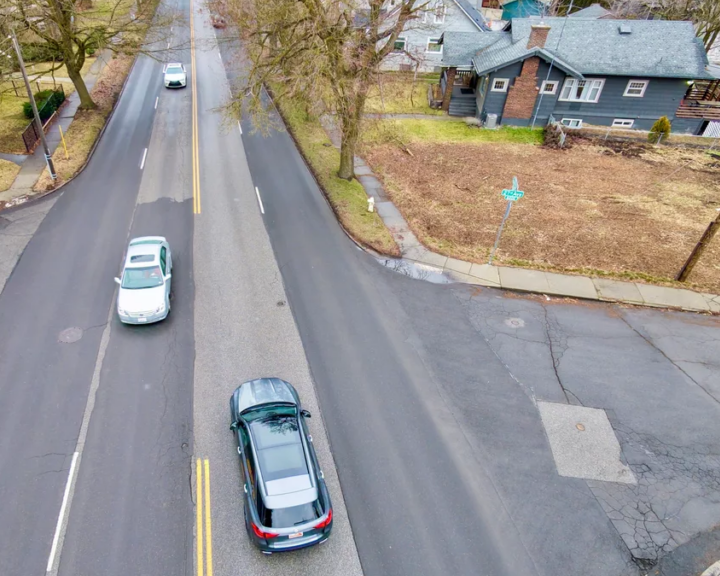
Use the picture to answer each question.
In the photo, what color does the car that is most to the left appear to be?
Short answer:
white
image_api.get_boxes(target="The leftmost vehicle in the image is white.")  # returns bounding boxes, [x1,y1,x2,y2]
[114,239,171,321]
